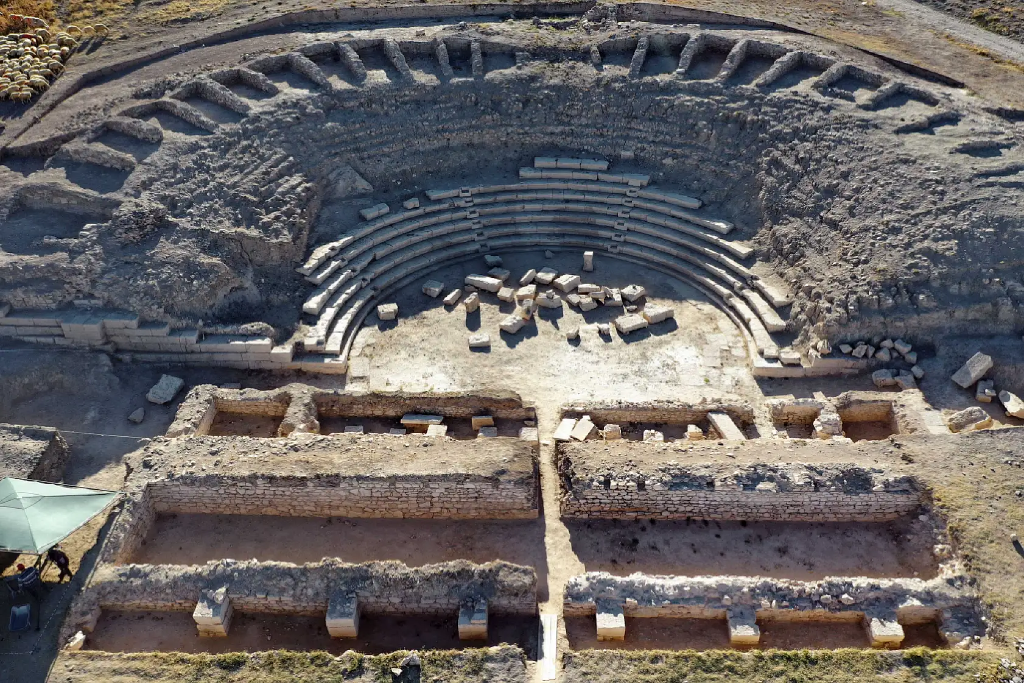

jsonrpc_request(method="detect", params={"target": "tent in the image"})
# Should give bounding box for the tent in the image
[0,477,122,612]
